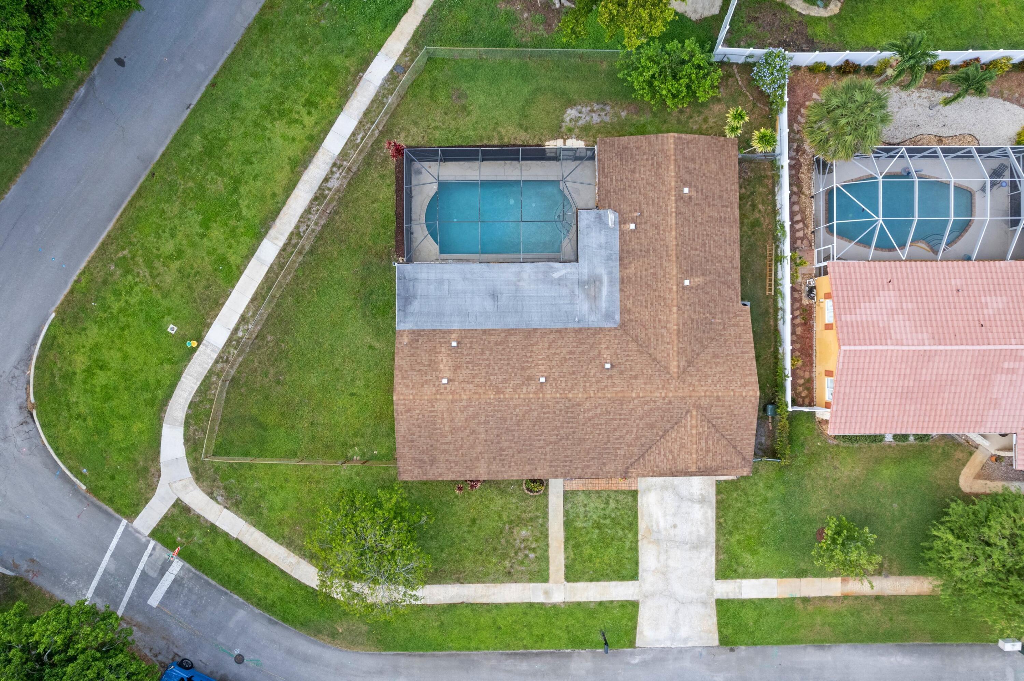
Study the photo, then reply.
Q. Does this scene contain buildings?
Yes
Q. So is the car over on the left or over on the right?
left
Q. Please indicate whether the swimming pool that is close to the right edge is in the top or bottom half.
top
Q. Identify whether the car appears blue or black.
blue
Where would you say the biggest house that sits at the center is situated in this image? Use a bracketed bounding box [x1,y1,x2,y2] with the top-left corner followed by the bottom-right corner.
[393,132,760,481]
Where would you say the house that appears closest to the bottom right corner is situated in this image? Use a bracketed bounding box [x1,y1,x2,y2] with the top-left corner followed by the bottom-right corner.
[816,258,1024,470]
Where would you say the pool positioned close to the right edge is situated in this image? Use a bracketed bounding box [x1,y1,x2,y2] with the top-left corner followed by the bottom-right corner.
[825,171,976,254]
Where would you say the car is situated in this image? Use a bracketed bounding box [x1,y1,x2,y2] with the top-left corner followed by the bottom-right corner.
[161,659,216,681]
